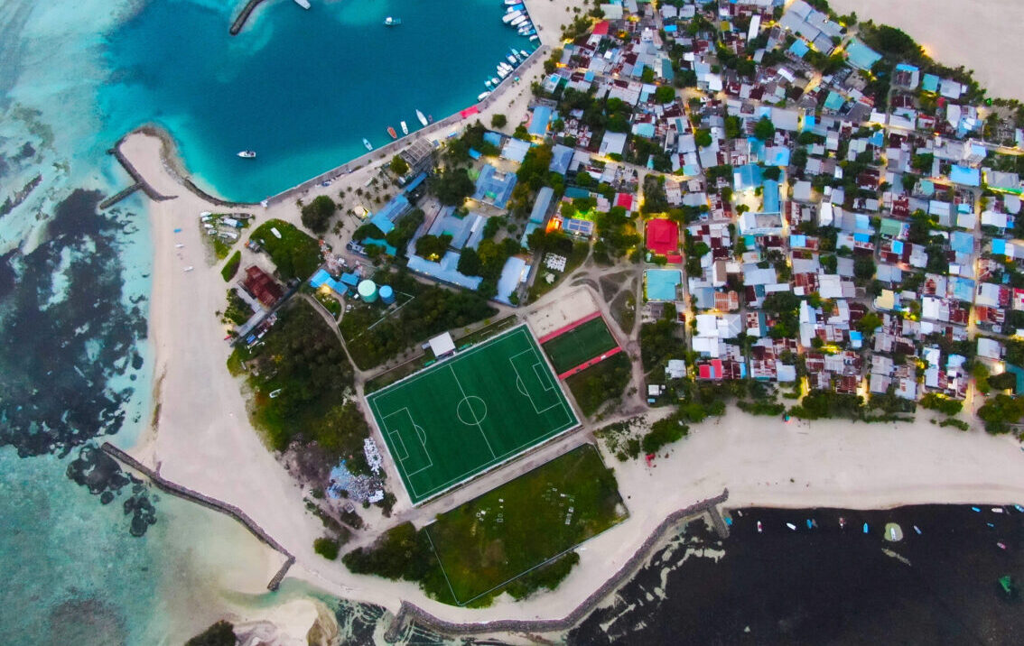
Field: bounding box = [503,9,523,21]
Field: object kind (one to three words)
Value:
boat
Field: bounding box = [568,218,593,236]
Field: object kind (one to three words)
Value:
building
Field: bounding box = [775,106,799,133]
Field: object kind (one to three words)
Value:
house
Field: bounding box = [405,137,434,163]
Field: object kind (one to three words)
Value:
house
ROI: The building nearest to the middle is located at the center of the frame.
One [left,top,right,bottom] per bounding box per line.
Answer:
[493,257,526,307]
